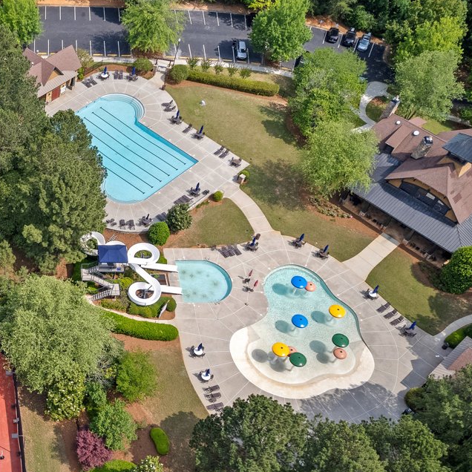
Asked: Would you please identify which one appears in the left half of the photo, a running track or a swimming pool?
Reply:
swimming pool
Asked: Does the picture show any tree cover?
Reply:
Yes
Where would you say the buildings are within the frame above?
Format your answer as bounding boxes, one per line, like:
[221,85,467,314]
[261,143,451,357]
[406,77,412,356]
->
[3,45,82,106]
[421,322,472,415]
[327,97,472,269]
